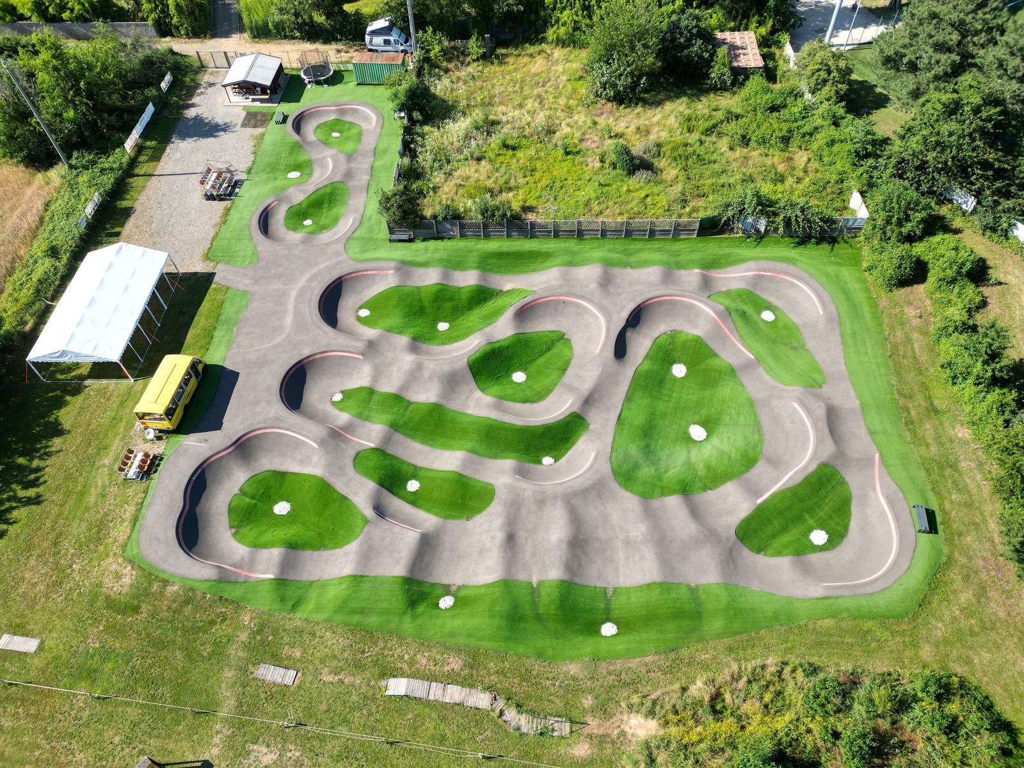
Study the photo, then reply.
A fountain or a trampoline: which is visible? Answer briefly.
trampoline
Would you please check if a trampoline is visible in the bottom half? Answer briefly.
No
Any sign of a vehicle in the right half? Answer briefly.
No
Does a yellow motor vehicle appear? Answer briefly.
Yes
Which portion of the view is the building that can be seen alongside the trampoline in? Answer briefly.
top left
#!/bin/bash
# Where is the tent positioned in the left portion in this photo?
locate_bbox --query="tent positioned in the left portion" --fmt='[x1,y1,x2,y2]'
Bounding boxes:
[27,242,180,383]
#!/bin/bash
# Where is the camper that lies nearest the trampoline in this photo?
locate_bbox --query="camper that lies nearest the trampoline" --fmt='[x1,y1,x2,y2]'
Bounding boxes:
[365,11,417,51]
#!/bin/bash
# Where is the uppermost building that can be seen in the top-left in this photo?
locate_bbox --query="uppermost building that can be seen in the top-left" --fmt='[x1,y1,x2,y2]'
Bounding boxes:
[219,52,290,107]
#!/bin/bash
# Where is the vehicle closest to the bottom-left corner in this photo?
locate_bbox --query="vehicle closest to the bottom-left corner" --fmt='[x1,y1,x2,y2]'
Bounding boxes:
[136,355,210,435]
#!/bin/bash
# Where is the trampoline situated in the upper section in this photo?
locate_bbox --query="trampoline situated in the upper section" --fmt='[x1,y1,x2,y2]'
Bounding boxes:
[297,49,335,85]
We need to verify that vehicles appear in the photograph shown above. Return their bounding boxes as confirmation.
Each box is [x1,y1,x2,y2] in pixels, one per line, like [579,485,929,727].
[136,355,210,435]
[365,11,417,51]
